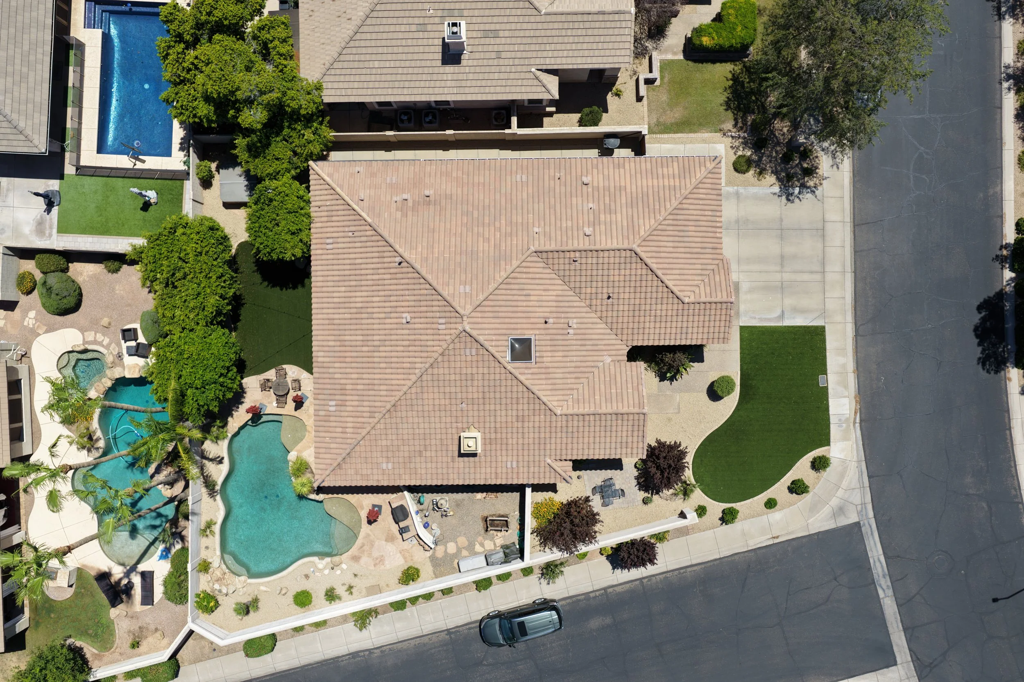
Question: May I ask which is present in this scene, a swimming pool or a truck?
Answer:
swimming pool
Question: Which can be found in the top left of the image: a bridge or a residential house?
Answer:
residential house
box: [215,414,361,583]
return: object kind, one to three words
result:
swimming pool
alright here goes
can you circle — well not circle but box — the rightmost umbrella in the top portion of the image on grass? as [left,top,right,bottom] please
[127,186,158,203]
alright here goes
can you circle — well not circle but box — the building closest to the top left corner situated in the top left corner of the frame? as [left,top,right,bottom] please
[0,0,71,163]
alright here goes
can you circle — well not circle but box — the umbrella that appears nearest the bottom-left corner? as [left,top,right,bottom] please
[248,402,268,416]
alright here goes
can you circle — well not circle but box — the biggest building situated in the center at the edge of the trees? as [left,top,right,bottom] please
[307,153,735,489]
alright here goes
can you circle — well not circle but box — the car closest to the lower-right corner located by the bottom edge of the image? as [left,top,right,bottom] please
[477,597,564,649]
